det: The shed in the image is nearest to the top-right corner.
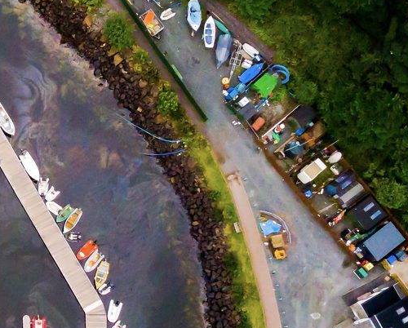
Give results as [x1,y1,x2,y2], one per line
[285,107,317,130]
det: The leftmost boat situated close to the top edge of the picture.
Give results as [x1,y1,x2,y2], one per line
[160,7,177,20]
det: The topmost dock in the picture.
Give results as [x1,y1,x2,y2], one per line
[0,126,105,314]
